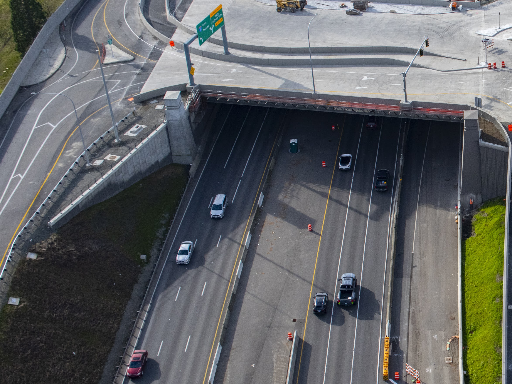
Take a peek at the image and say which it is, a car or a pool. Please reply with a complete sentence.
Visible in the photo is a car.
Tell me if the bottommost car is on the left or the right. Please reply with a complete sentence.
The bottommost car sits on the left side.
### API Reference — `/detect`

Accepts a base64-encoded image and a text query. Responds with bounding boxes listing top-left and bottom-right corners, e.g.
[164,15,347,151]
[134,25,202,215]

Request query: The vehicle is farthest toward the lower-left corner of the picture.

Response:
[127,350,147,378]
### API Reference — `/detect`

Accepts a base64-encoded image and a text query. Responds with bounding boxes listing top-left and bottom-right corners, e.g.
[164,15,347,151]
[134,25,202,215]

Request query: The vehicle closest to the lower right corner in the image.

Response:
[338,275,357,306]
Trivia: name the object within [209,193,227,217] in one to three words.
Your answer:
car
